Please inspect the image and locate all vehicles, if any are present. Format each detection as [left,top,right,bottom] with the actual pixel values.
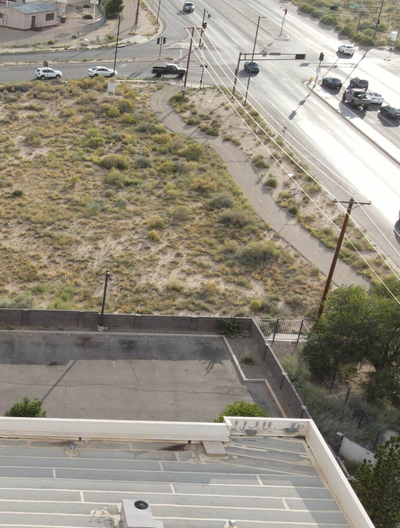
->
[151,62,187,76]
[35,68,62,78]
[382,107,400,119]
[350,76,368,89]
[365,92,386,105]
[88,67,116,77]
[184,2,194,11]
[338,46,357,54]
[344,91,367,108]
[324,76,341,88]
